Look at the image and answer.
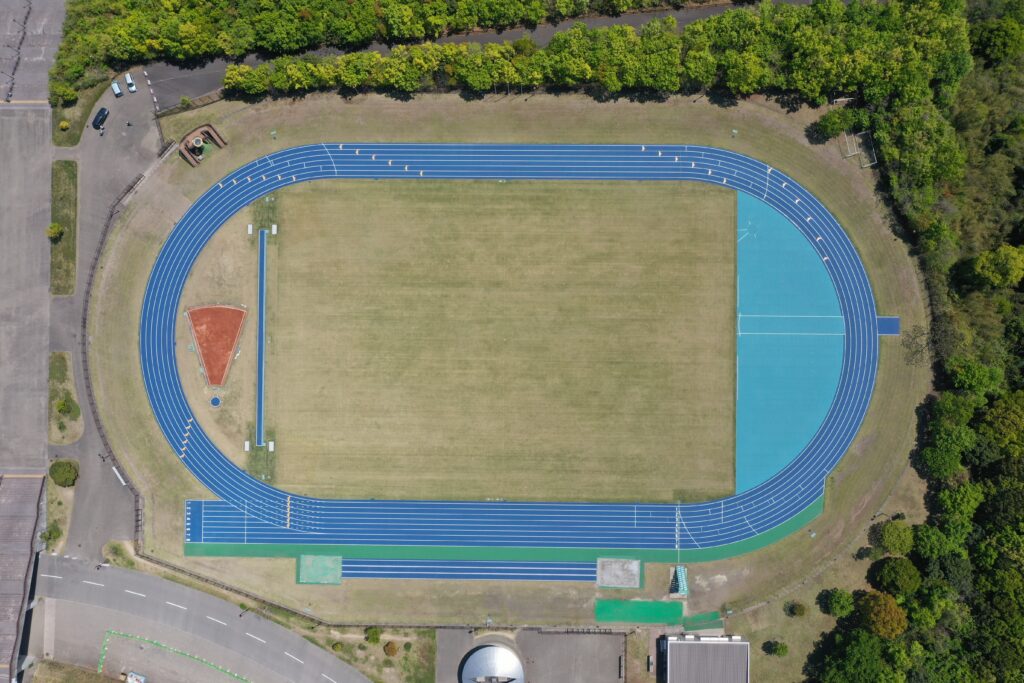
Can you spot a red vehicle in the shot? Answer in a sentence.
No, no red vehicle is visible in the scene.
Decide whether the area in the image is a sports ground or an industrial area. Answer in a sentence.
The picture captures a sports ground.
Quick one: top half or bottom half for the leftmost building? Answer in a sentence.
The leftmost building is in the bottom half of the image.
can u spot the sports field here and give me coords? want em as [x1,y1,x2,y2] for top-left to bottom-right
[274,179,737,502]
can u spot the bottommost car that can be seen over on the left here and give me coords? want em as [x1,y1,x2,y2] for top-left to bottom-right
[90,107,109,129]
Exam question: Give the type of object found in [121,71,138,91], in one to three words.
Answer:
car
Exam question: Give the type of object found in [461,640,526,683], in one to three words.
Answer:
building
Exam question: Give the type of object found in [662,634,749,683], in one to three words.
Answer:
building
